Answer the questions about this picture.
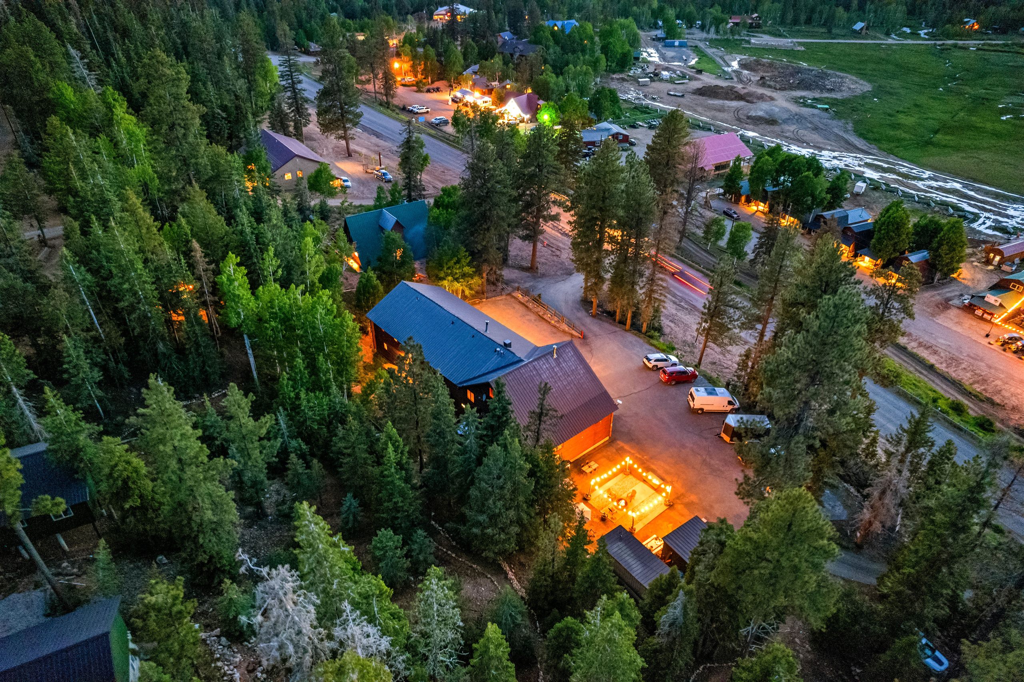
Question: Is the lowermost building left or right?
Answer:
left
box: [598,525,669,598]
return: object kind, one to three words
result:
shed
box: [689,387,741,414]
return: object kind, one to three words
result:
vehicle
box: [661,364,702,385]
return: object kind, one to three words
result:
car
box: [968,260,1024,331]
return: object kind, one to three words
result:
building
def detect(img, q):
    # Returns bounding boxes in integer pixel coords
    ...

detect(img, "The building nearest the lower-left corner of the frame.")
[0,595,146,682]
